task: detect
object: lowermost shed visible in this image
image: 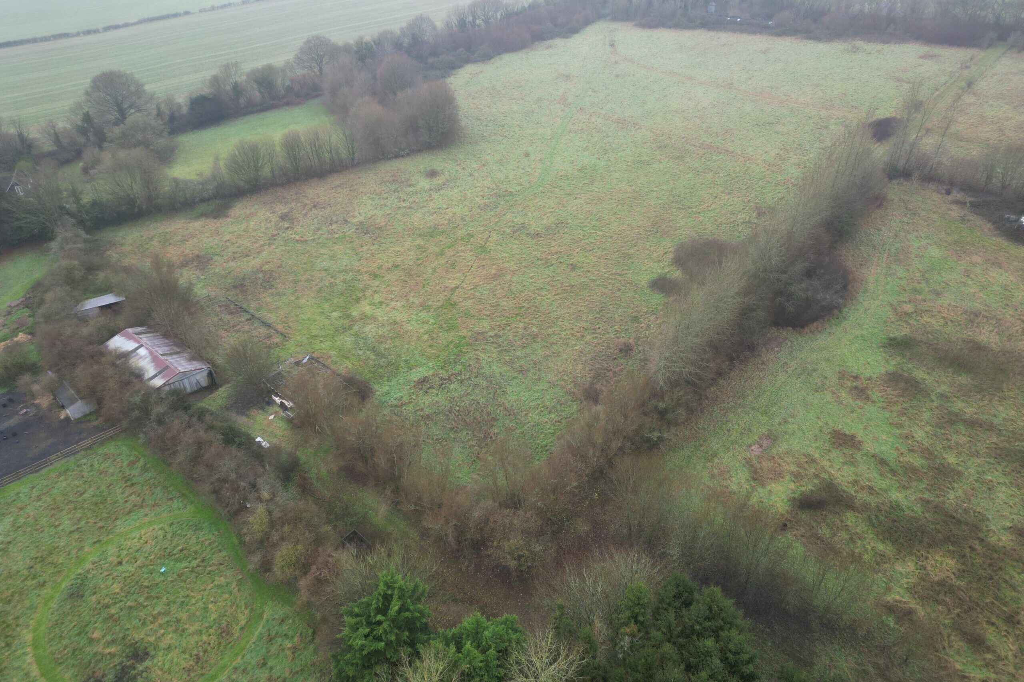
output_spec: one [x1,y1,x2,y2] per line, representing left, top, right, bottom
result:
[334,513,380,560]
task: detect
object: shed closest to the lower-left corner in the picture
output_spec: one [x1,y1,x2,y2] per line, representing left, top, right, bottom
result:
[53,378,101,430]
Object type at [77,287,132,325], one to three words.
shed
